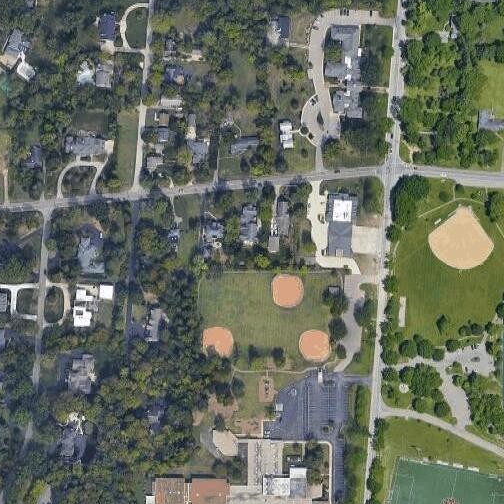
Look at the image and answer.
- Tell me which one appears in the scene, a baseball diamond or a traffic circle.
baseball diamond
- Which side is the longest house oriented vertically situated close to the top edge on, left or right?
right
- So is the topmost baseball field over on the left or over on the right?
right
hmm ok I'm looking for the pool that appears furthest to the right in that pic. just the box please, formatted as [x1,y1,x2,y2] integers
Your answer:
[77,64,95,83]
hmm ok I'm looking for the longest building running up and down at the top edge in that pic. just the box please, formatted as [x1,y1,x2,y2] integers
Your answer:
[325,24,363,117]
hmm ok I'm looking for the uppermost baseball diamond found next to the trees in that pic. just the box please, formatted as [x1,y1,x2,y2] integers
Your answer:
[429,204,495,270]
